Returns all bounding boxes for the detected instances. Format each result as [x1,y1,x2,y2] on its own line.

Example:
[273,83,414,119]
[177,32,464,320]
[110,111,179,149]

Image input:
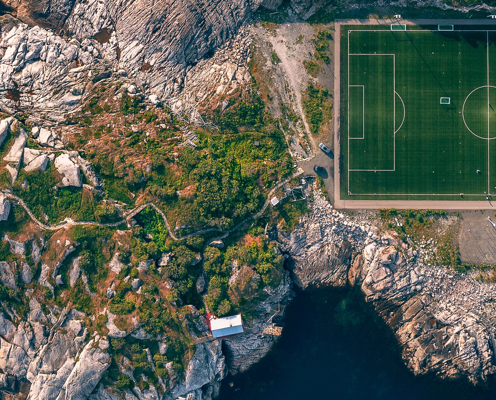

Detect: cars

[313,165,325,172]
[319,143,331,154]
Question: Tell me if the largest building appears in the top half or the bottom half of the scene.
bottom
